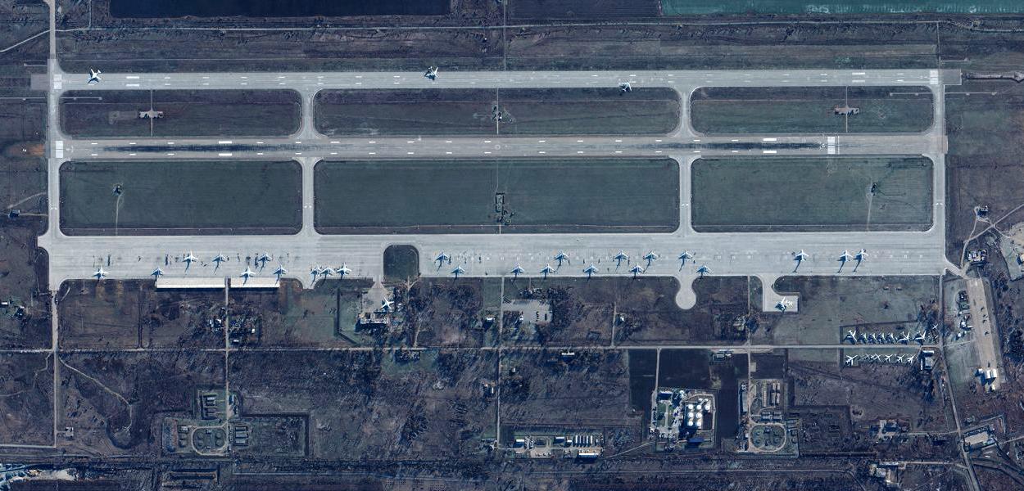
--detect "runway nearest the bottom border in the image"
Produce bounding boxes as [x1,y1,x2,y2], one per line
[48,136,931,158]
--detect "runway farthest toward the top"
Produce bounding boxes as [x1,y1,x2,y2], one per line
[54,69,940,90]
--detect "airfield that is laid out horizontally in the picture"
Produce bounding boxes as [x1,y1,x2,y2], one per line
[31,59,999,392]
